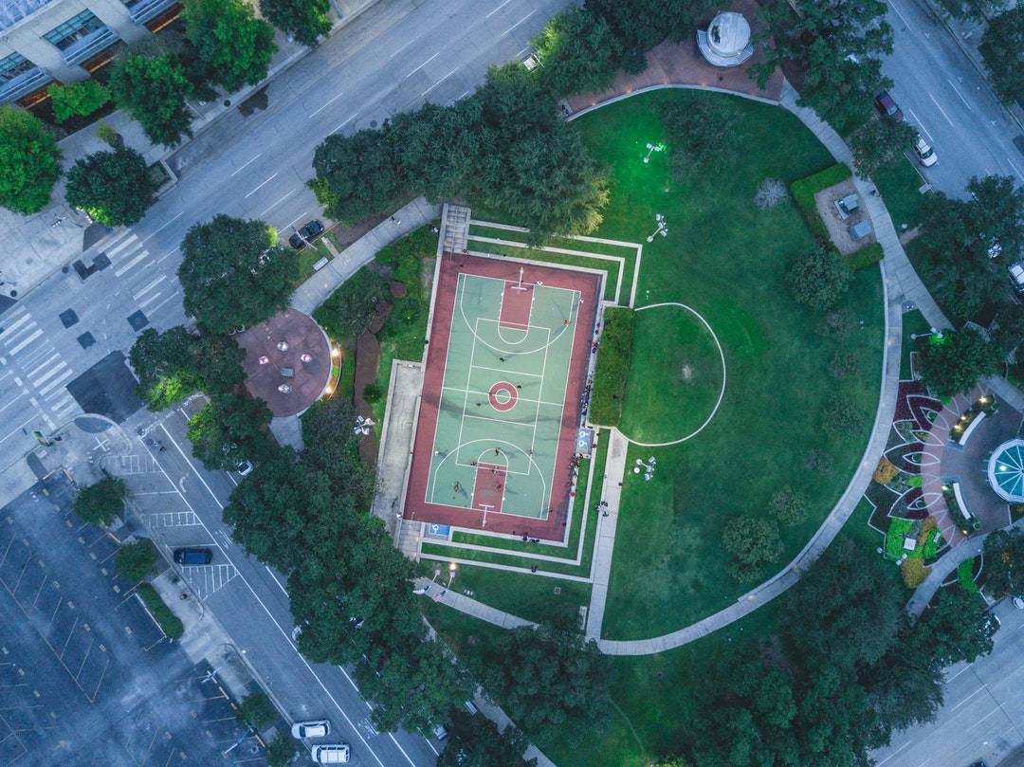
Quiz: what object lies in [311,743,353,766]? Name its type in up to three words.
vehicle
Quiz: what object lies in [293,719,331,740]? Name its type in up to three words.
car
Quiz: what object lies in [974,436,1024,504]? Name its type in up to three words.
building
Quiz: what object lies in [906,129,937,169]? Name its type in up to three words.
car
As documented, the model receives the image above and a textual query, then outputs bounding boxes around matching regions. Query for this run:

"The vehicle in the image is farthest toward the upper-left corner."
[287,219,327,251]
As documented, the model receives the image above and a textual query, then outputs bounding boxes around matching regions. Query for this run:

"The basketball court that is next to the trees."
[404,252,599,541]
